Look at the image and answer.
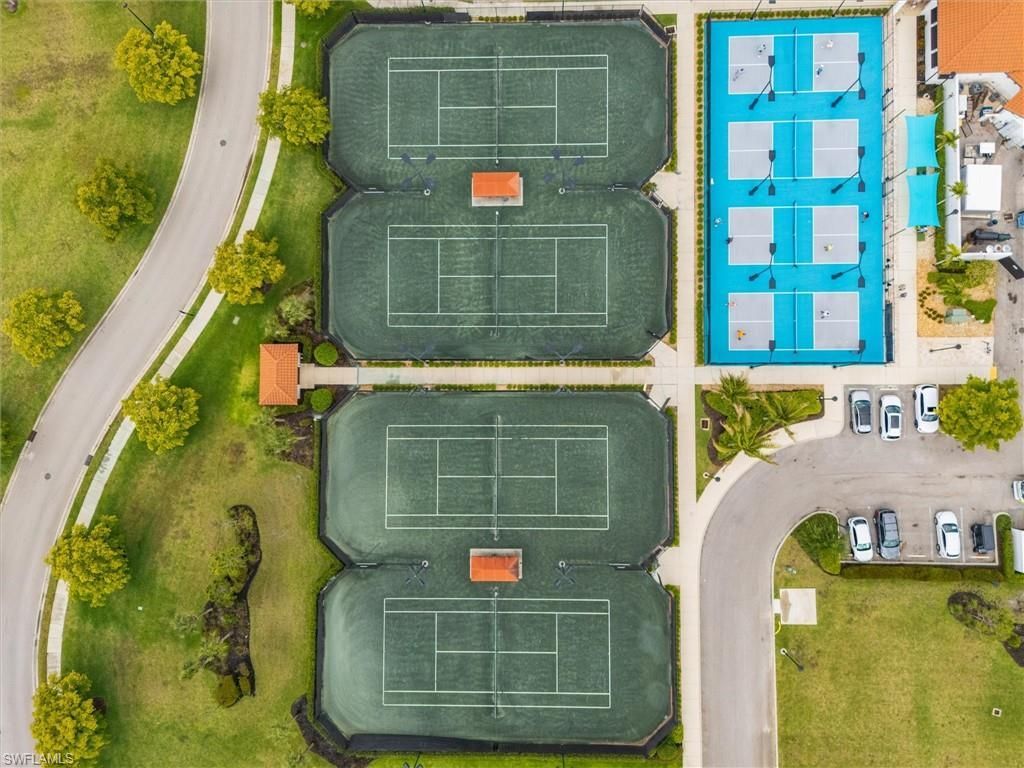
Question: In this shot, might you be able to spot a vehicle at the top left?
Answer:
No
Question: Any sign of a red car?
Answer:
No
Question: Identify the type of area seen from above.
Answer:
sports ground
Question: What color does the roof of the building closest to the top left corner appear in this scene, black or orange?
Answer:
orange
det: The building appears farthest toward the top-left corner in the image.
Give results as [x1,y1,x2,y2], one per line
[258,344,305,406]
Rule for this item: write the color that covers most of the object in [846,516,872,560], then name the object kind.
white car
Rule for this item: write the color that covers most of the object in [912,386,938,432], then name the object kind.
white car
